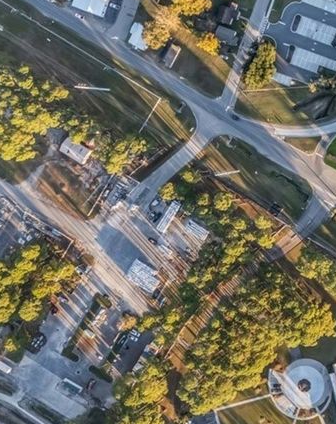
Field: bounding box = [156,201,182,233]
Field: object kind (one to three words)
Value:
shed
